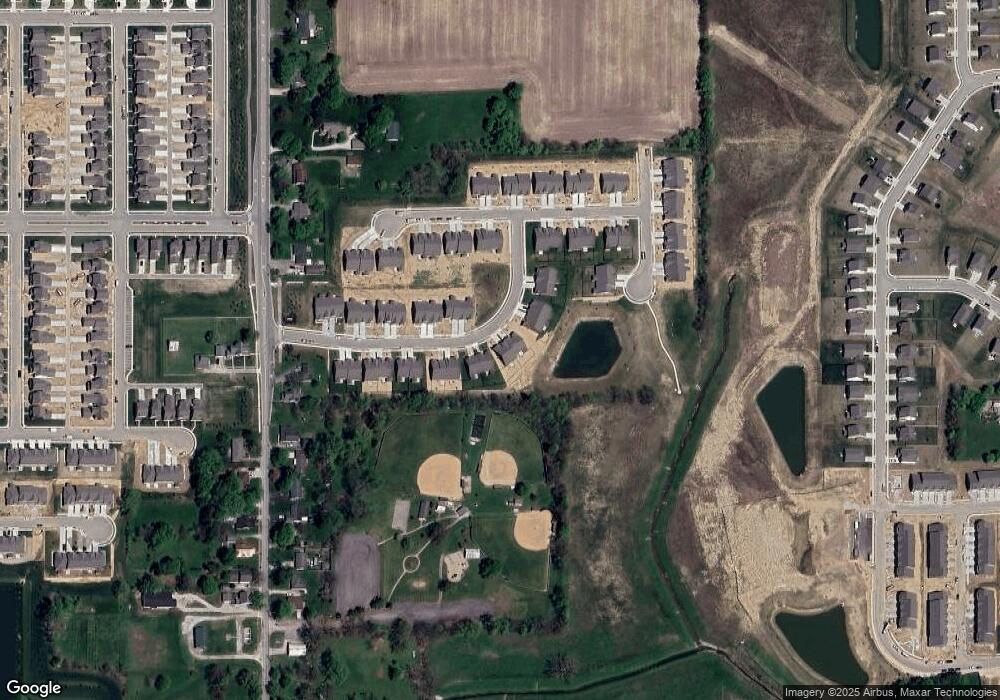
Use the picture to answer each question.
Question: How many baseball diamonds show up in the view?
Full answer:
In total, there are 3 baseball diamonds in the scene.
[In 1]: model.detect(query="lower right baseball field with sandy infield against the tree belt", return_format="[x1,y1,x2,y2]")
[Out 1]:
[476,508,553,591]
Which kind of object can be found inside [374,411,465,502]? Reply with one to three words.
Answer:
baseball field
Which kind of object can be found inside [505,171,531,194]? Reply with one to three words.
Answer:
house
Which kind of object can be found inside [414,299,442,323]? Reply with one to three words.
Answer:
house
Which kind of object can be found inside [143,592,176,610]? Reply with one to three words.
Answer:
barn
